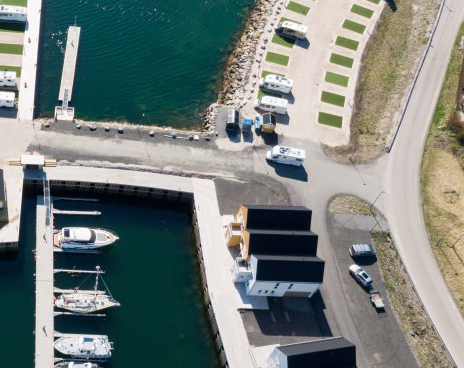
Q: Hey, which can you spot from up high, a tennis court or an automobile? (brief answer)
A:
automobile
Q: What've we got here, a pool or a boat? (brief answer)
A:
boat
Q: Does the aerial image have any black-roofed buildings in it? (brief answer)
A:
Yes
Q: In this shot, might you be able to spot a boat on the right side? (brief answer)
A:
No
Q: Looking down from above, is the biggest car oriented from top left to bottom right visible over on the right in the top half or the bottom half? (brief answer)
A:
bottom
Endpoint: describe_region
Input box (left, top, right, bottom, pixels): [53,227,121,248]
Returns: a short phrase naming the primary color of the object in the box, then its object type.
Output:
white boat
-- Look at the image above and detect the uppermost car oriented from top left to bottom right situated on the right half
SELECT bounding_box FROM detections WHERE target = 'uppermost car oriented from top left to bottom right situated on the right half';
[347,264,374,289]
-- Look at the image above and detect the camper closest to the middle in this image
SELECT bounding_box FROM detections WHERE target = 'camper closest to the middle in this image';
[261,148,304,169]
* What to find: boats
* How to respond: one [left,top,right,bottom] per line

[53,271,119,312]
[53,227,121,248]
[56,361,104,368]
[54,335,117,360]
